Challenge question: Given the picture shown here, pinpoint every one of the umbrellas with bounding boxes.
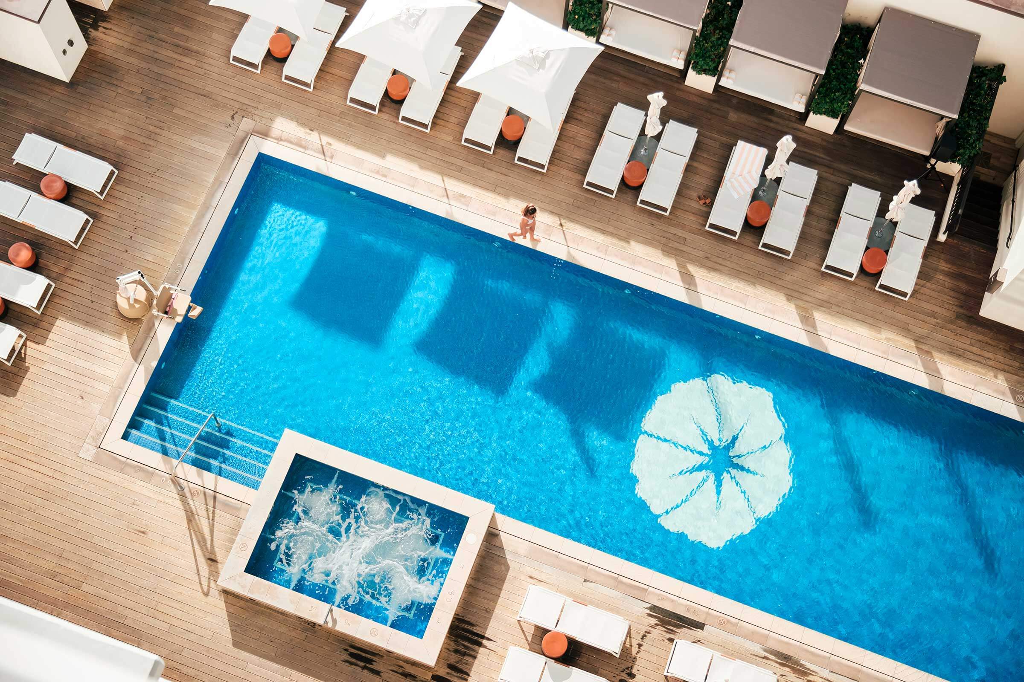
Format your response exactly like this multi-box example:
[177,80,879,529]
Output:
[865,171,920,251]
[336,0,482,88]
[628,84,668,170]
[748,129,801,209]
[209,0,320,47]
[457,1,604,132]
